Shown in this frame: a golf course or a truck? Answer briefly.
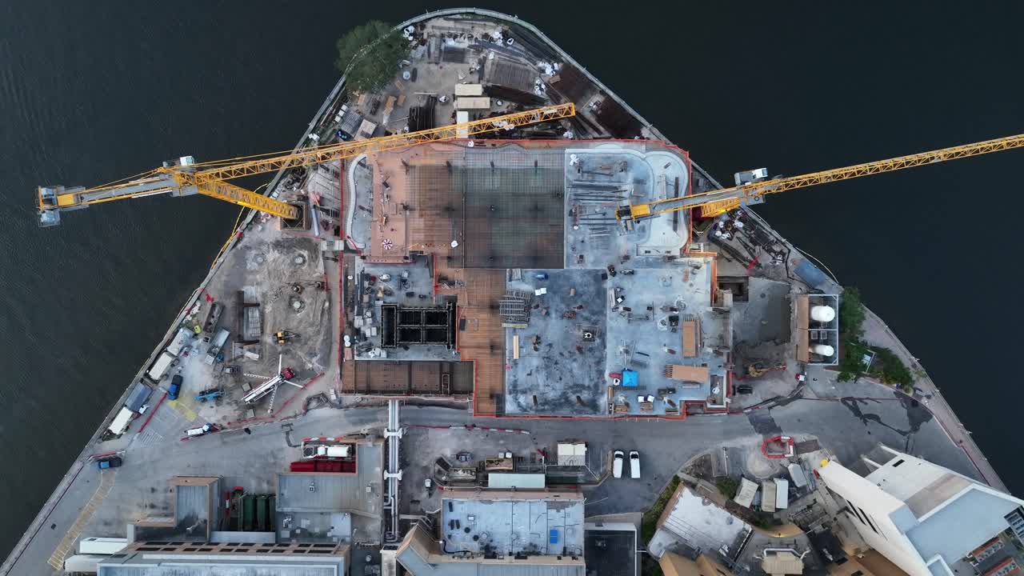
truck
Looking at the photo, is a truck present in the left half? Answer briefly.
Yes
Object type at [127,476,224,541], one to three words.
building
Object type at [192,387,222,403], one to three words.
work vehicle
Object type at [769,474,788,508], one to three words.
building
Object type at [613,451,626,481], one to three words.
vehicle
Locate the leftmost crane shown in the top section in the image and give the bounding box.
[36,102,576,227]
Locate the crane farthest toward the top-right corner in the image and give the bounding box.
[625,134,1024,233]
